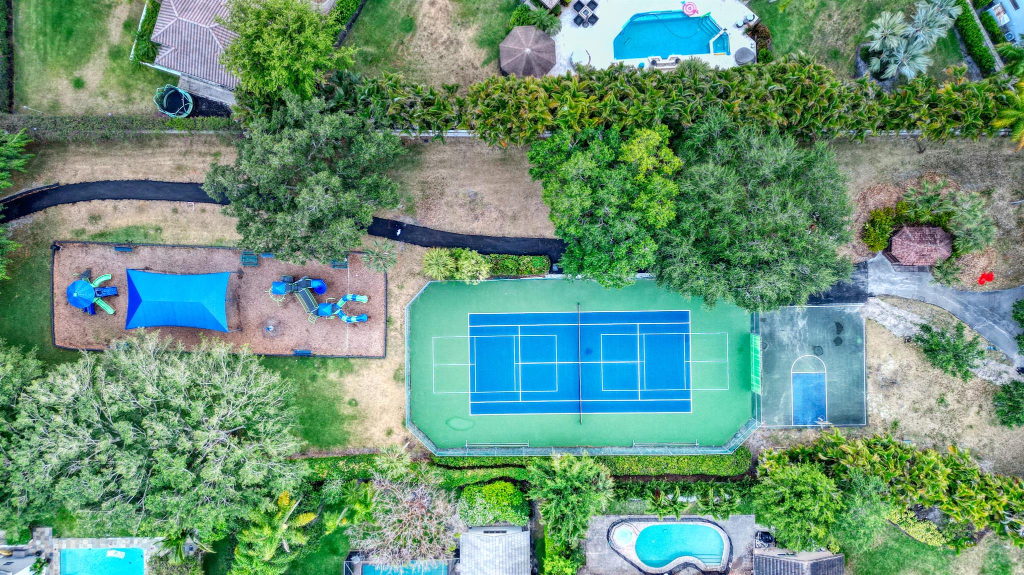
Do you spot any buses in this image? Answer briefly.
No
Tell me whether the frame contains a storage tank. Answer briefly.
No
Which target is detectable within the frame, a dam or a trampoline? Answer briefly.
trampoline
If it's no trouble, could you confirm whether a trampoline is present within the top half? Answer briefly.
Yes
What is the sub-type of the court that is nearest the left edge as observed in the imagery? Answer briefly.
tennis court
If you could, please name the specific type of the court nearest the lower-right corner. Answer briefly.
basketball court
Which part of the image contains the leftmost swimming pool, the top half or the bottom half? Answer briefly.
bottom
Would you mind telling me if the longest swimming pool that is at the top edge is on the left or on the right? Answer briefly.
right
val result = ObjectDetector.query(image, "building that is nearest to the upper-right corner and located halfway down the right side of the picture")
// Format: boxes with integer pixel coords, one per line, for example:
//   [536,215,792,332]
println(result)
[880,226,953,272]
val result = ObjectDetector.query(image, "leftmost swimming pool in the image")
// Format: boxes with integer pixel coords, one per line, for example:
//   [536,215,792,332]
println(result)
[56,545,147,575]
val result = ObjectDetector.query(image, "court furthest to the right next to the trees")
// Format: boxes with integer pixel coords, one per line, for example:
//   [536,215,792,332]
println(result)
[749,304,868,428]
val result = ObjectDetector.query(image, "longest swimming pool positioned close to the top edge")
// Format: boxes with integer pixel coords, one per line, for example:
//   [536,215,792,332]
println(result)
[614,13,722,59]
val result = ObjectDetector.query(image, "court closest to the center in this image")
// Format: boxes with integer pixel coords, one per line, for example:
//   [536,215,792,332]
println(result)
[411,279,749,448]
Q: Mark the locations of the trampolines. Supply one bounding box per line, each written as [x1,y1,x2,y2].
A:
[153,81,197,118]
